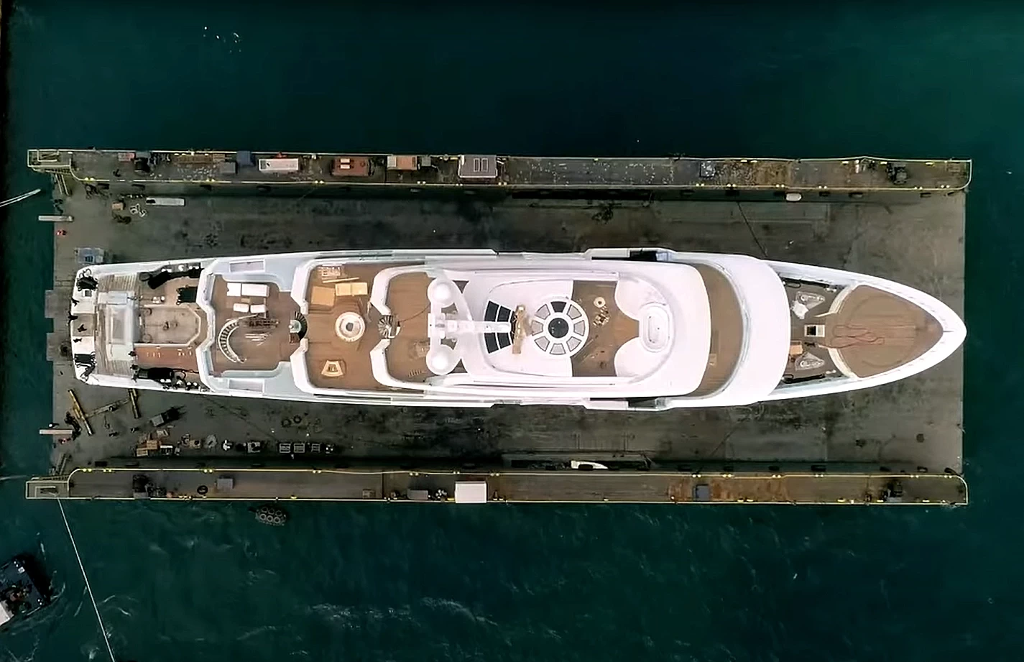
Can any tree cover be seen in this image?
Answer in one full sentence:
No, there's no tree cover in this view.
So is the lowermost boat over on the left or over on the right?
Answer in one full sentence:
The lowermost boat is on the left side of the image.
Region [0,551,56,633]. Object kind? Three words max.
boat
